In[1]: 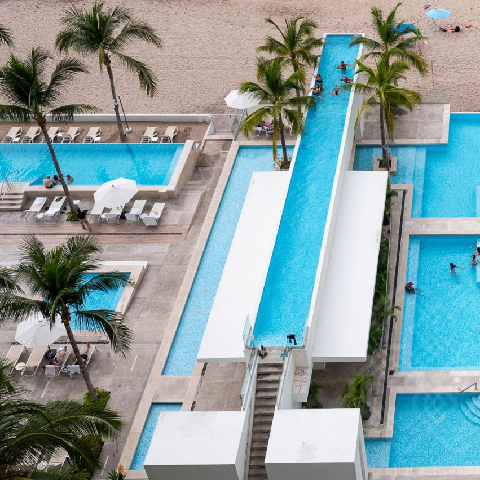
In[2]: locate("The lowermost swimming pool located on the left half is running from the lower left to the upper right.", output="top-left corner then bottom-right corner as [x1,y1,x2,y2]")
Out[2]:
[129,383,200,480]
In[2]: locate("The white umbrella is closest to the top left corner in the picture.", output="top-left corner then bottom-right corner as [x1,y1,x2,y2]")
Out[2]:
[89,181,141,227]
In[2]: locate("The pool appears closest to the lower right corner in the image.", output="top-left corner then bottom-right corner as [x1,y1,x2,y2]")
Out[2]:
[363,385,480,480]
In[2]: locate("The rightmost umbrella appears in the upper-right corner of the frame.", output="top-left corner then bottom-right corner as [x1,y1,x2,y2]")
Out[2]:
[425,8,453,34]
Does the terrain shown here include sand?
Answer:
Yes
